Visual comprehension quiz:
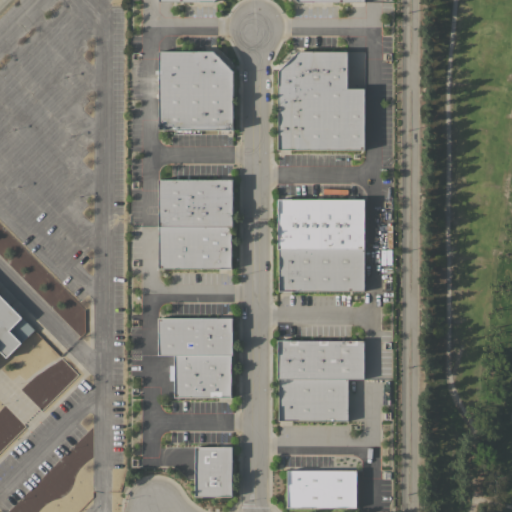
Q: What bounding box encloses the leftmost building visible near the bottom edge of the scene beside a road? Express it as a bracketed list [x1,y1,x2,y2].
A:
[195,447,232,497]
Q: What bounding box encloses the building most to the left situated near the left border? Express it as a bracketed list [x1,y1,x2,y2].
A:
[0,295,34,359]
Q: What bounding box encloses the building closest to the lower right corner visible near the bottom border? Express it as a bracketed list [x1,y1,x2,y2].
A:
[287,470,358,508]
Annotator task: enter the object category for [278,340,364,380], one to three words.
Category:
building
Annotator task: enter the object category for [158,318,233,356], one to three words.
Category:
building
